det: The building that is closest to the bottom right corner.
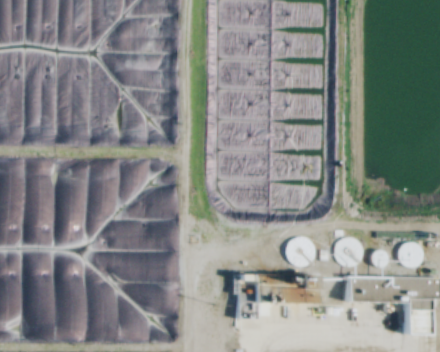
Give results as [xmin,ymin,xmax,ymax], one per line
[400,302,436,335]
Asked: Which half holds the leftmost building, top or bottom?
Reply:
bottom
